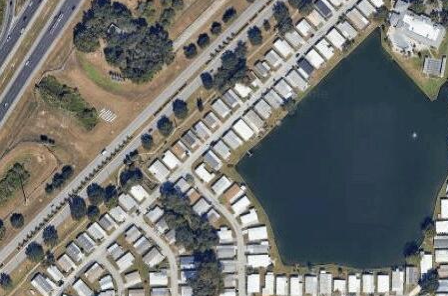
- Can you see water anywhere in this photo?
Yes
